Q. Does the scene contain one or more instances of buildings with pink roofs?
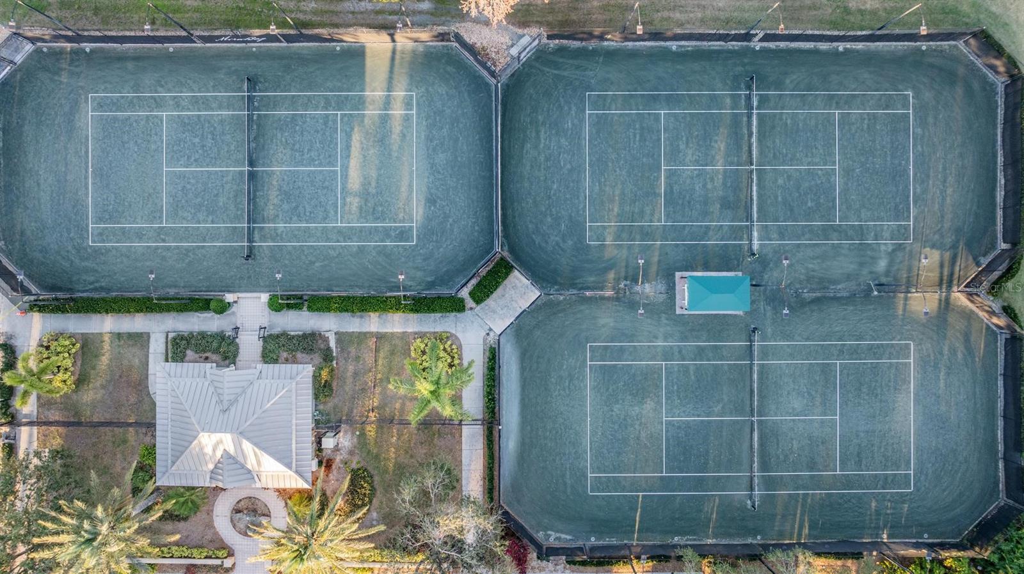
No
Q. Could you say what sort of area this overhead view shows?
sports ground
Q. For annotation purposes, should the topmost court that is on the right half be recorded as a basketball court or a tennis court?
tennis court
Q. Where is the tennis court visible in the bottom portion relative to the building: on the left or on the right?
on its right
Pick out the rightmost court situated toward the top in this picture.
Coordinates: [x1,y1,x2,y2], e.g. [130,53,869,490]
[499,42,1001,293]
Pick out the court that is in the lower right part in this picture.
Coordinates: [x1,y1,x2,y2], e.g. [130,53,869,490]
[499,293,997,544]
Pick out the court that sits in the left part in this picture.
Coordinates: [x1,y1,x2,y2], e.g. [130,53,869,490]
[0,42,498,294]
